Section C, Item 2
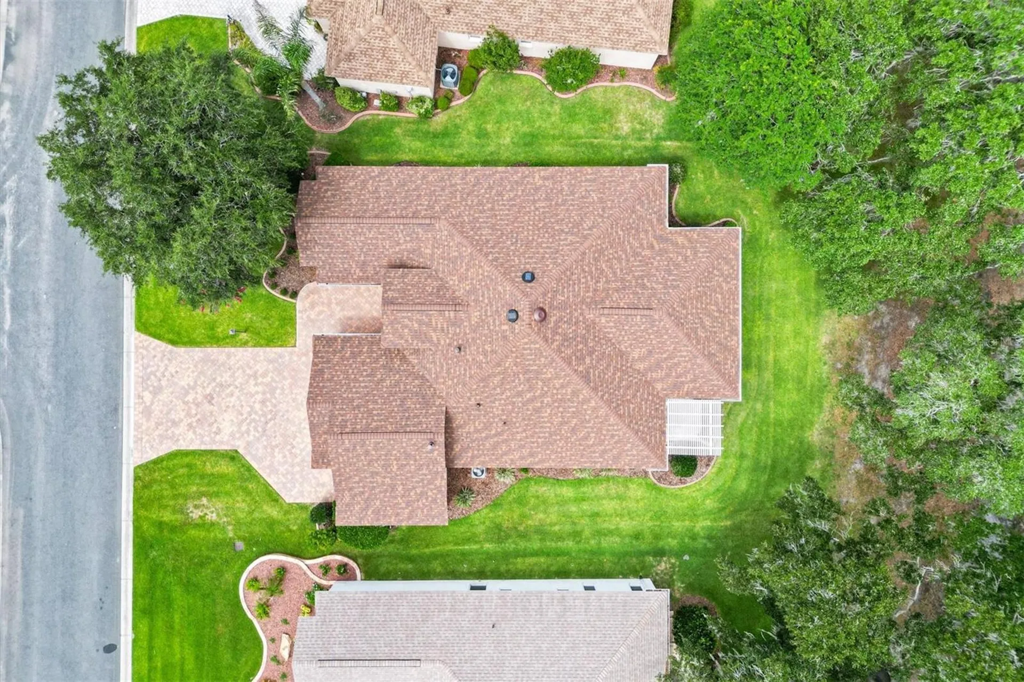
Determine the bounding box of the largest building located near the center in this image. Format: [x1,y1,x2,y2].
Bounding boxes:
[292,164,744,525]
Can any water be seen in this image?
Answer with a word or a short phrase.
No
